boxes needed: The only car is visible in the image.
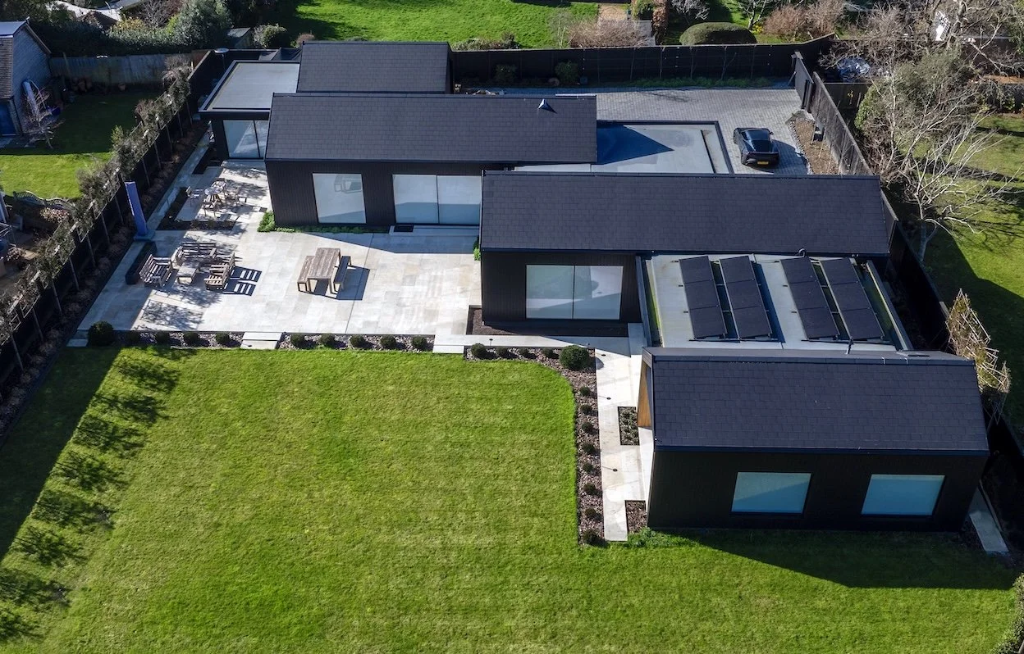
[732,121,782,165]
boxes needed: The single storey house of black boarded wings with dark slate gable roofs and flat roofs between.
[199,41,990,534]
